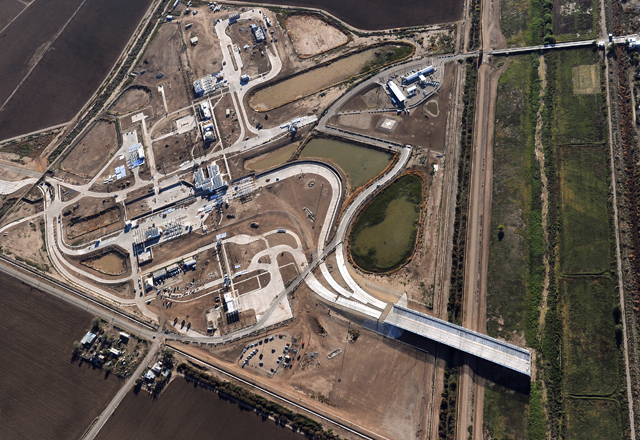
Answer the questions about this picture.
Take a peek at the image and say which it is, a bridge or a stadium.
bridge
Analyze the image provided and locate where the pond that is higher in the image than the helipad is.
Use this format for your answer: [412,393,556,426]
[249,42,409,111]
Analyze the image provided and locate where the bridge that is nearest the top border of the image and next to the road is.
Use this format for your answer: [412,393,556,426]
[485,39,596,54]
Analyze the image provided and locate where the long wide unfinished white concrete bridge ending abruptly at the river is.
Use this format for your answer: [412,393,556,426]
[384,305,531,376]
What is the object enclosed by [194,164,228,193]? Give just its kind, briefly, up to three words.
building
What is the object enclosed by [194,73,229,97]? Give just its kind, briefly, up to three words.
building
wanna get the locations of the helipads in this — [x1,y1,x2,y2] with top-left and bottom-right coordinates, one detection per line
[376,114,401,132]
